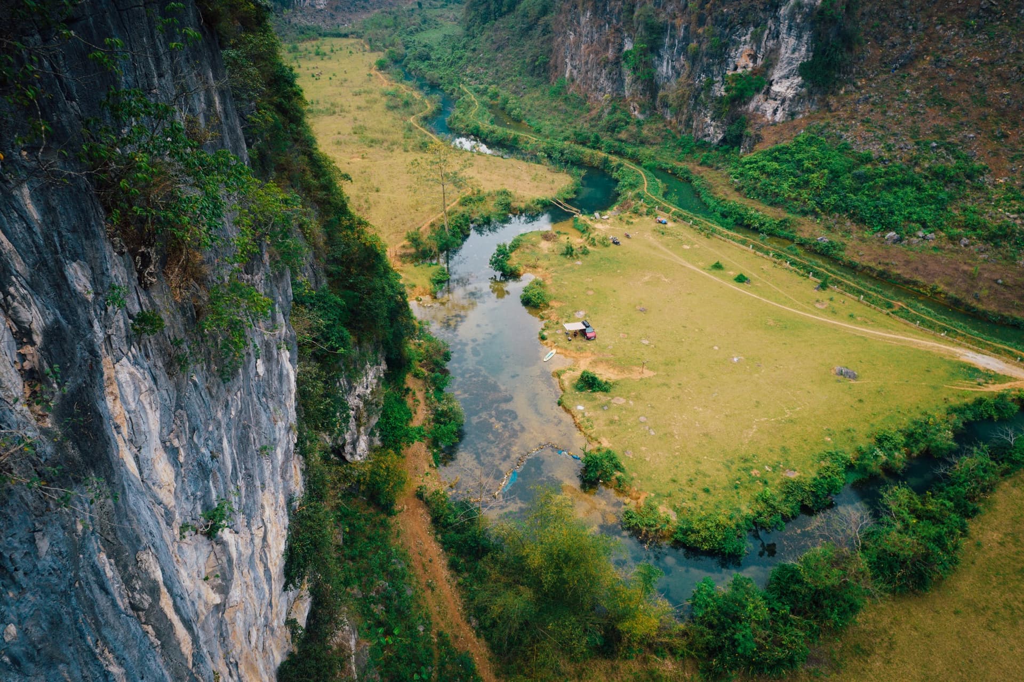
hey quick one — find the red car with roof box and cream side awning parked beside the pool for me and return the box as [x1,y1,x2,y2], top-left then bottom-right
[566,319,597,341]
